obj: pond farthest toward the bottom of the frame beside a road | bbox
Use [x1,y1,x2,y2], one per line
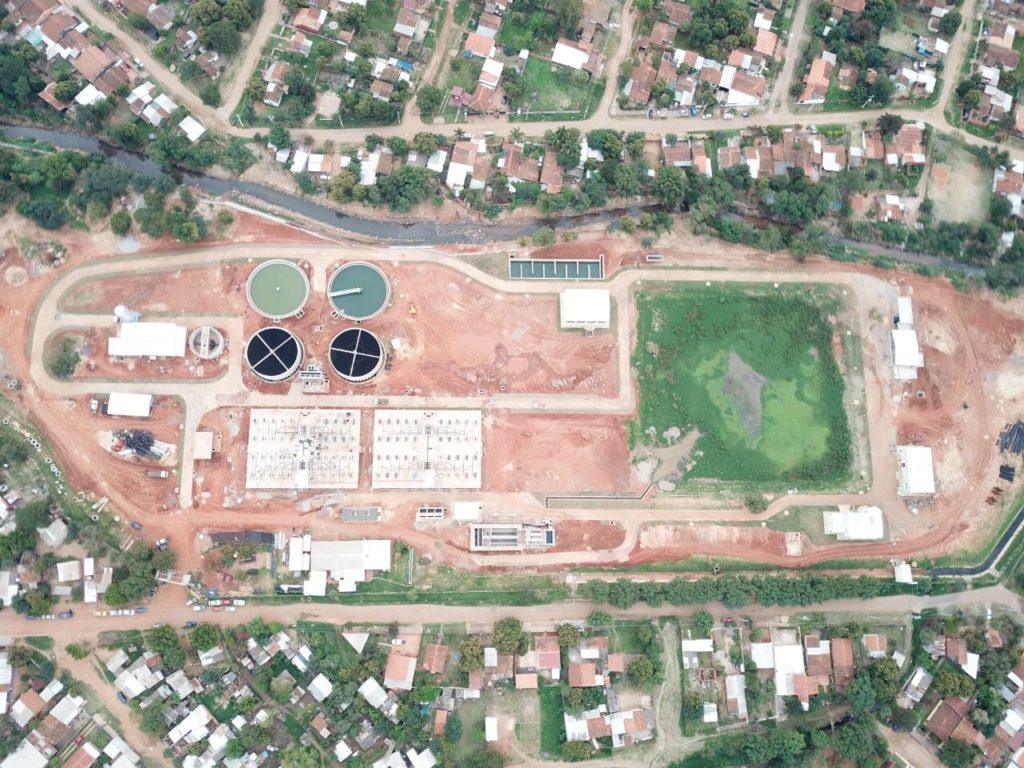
[632,285,852,489]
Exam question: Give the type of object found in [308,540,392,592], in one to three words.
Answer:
building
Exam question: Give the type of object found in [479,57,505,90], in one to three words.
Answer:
house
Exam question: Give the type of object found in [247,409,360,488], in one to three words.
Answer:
storage tank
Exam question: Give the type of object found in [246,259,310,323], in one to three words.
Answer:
storage tank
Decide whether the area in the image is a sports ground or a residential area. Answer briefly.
residential area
